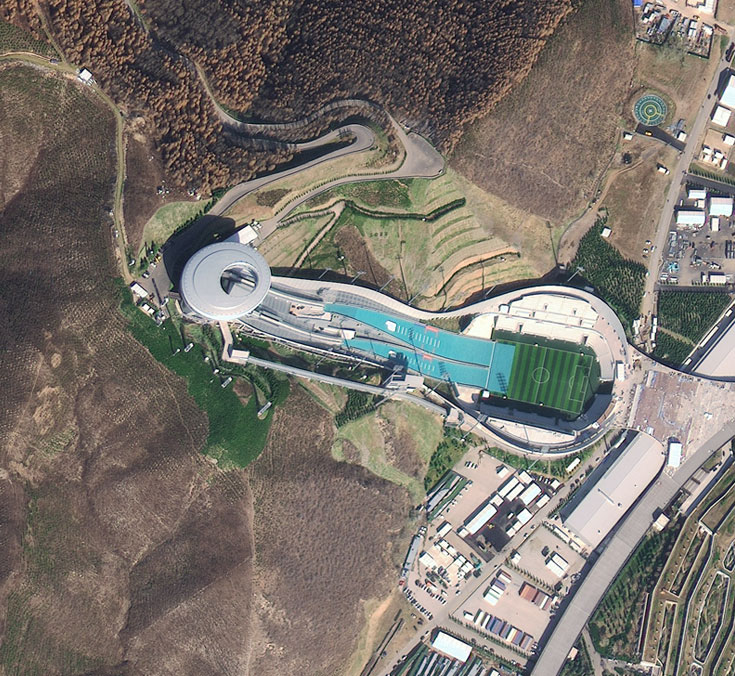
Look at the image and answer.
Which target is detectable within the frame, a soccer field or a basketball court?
soccer field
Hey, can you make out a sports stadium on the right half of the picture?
Yes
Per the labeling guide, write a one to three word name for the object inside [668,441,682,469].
shed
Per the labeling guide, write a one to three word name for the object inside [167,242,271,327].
building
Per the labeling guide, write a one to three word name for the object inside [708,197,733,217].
shed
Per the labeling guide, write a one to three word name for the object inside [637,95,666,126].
helipad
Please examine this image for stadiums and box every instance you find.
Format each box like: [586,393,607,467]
[423,293,616,456]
